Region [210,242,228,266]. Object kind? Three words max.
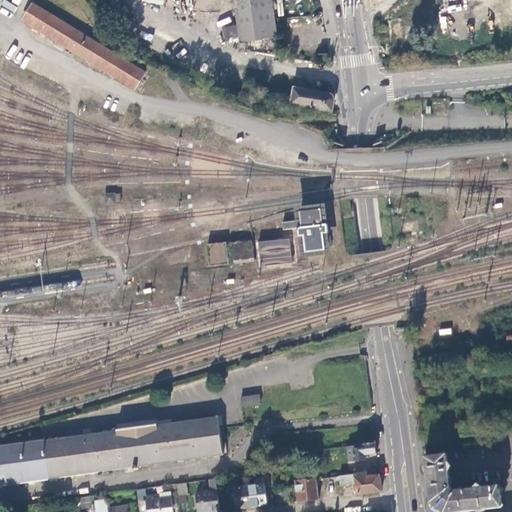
building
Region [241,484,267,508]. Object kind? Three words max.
house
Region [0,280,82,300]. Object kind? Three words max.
train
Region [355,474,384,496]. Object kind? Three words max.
house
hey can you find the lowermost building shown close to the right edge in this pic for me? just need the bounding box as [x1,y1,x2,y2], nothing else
[423,453,503,512]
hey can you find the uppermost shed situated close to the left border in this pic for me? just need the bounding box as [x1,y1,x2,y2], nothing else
[20,3,146,90]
